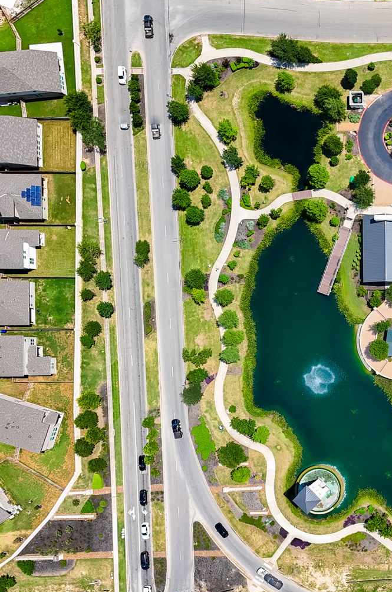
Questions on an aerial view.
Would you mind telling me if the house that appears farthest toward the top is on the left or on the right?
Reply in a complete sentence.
It is on the left.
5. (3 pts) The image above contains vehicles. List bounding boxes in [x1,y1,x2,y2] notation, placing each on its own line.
[117,66,127,85]
[137,454,147,471]
[151,122,160,140]
[254,564,265,575]
[214,521,230,538]
[144,15,153,37]
[138,488,148,505]
[144,584,152,592]
[264,573,283,589]
[171,418,182,439]
[140,521,150,538]
[140,551,150,569]
[120,121,129,132]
